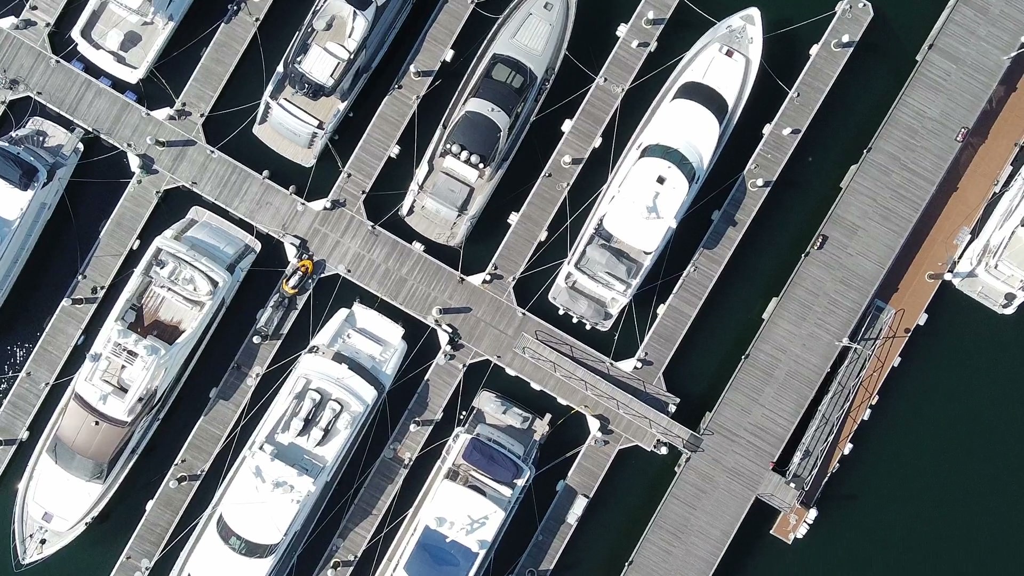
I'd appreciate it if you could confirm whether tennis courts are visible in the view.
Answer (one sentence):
No, no tennis court is visible in the scene.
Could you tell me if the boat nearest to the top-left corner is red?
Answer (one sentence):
No, from above the boat nearest to the top-left corner looks white.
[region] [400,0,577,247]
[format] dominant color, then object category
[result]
white boat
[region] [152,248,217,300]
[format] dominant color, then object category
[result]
white boat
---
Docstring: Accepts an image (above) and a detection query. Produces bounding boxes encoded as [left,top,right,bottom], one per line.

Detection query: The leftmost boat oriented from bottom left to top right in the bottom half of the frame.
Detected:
[11,206,262,572]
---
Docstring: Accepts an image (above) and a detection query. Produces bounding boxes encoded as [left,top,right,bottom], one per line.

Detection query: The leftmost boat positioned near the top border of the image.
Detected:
[71,0,202,89]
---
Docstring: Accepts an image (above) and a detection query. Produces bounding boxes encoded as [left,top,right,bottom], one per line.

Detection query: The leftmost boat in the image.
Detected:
[0,117,85,306]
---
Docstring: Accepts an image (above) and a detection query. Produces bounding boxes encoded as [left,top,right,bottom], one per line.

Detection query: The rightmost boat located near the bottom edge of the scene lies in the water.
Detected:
[378,387,551,576]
